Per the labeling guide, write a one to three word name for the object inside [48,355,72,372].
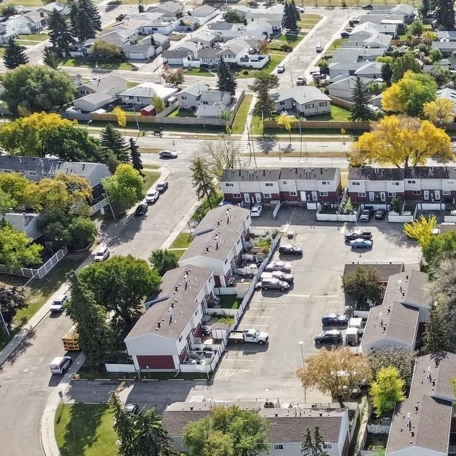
car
